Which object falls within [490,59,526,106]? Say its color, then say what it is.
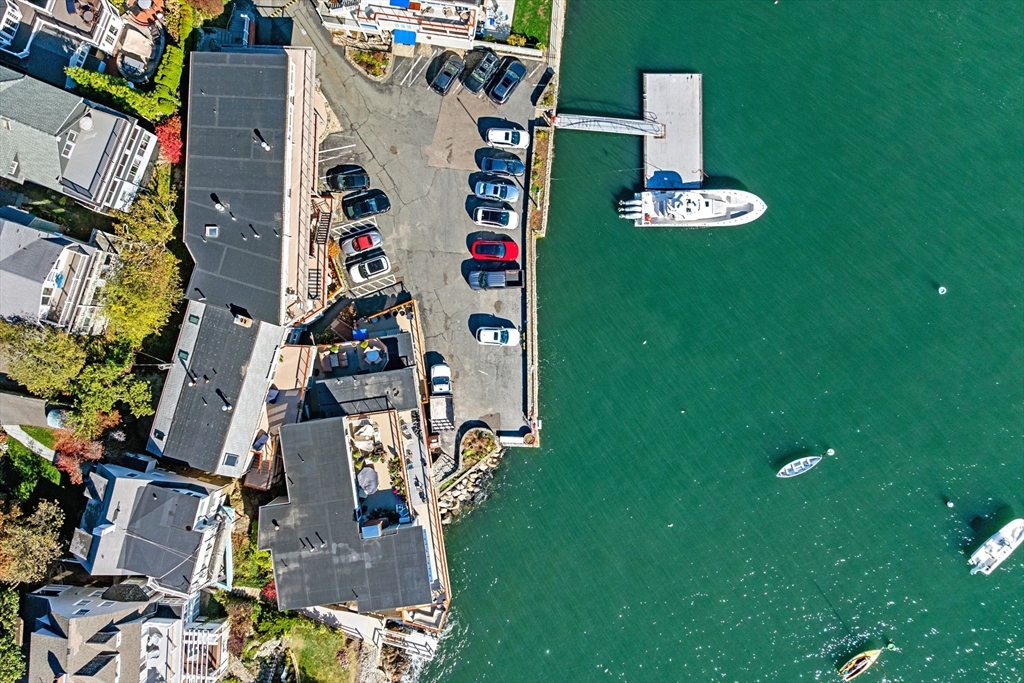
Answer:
blue car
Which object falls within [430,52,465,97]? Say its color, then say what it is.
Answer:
gray car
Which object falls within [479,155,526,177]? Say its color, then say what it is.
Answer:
blue car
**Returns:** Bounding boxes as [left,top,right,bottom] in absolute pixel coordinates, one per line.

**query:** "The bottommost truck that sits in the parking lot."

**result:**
[429,365,453,434]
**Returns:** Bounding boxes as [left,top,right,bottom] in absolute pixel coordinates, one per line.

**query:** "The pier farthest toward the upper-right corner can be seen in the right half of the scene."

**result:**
[642,72,704,189]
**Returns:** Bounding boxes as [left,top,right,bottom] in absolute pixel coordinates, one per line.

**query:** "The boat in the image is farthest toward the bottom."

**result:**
[839,649,894,683]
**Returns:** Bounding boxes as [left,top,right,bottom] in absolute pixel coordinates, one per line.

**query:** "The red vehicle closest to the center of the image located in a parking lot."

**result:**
[472,239,518,262]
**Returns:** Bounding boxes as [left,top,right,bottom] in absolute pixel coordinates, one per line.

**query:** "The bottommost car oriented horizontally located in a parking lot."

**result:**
[475,326,521,348]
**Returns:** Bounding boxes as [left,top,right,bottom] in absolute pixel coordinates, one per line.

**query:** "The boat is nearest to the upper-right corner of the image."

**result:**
[617,179,768,225]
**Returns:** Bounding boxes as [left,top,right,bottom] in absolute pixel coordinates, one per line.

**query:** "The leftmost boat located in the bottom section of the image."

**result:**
[776,456,824,478]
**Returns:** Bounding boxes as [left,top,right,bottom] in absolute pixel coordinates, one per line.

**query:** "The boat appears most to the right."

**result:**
[971,515,1024,576]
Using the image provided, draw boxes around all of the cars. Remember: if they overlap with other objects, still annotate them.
[479,155,526,177]
[472,207,519,229]
[463,47,499,96]
[430,52,465,97]
[341,231,384,257]
[45,408,92,431]
[475,326,521,348]
[348,256,392,282]
[342,192,392,220]
[326,170,373,193]
[490,59,526,106]
[472,239,518,262]
[473,181,520,203]
[485,127,530,150]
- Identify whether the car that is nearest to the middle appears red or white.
white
